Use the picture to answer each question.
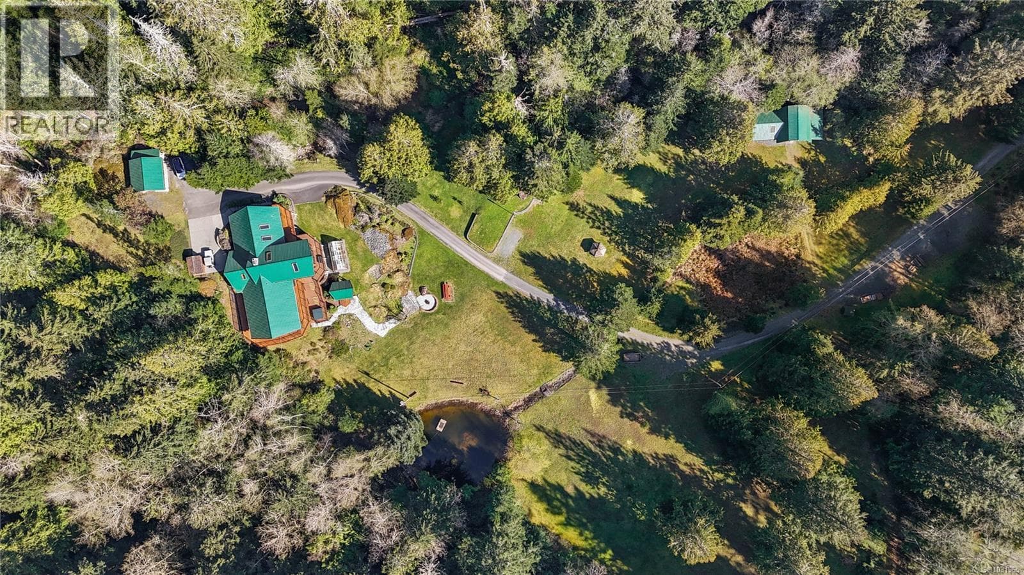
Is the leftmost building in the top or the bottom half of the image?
top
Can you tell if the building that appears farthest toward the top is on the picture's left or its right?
right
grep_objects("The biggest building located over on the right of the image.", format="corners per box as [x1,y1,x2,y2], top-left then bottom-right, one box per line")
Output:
[749,105,823,143]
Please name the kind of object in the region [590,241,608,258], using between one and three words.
gazebo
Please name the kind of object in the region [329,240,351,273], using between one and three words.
greenhouse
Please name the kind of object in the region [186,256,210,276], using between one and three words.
shed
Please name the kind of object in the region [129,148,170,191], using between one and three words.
building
